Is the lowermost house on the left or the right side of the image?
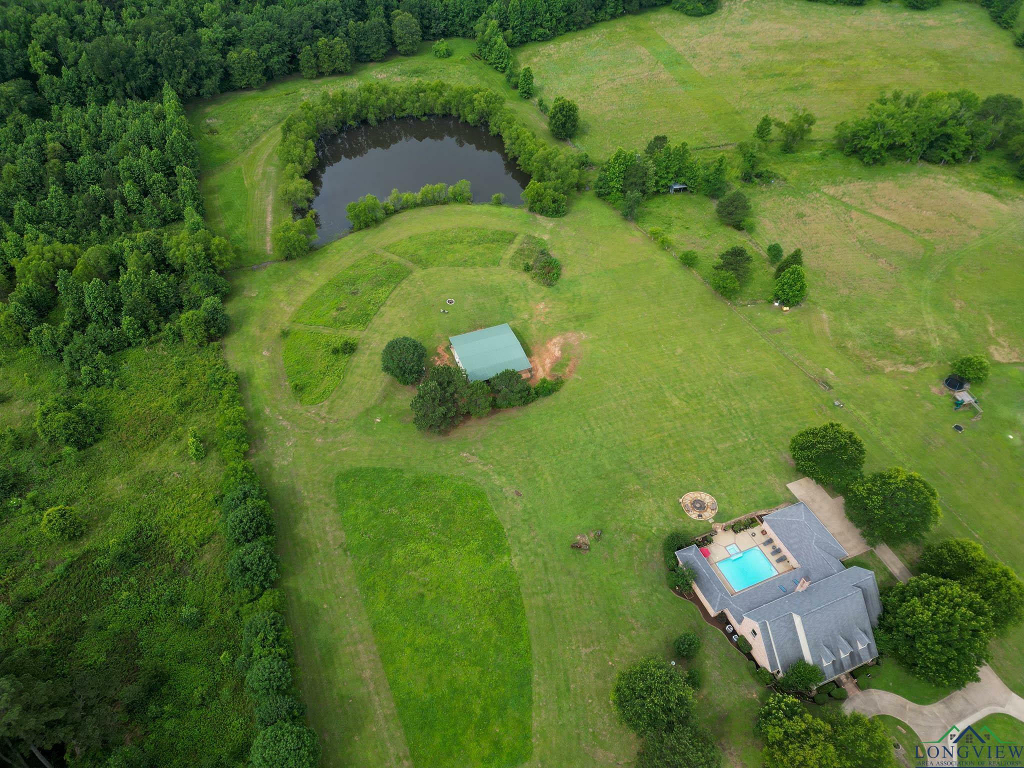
right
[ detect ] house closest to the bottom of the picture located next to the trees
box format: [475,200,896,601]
[676,501,885,696]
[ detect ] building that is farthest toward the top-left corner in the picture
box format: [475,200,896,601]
[449,324,532,387]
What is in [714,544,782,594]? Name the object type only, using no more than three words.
swimming pool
